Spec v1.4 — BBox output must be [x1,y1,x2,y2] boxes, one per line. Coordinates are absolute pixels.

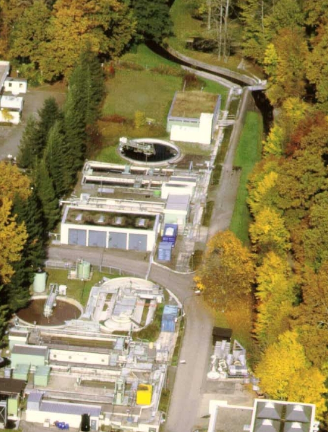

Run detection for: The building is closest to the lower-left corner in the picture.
[0,385,28,432]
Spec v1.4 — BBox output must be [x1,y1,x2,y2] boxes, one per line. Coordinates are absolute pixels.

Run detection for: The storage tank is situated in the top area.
[112,138,184,169]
